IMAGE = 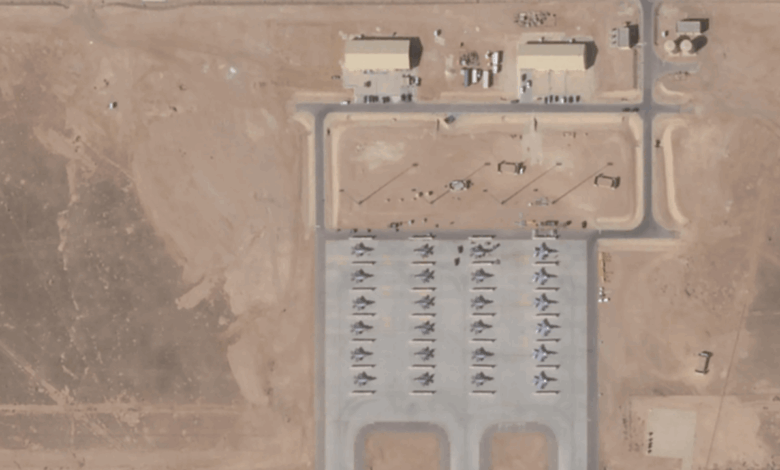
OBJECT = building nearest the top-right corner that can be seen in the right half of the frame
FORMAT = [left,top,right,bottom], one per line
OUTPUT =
[676,20,701,34]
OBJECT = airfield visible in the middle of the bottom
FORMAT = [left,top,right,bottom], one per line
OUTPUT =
[324,239,588,470]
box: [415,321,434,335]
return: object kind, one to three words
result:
airplane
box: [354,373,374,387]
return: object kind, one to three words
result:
airplane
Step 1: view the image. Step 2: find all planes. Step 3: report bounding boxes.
[472,374,491,387]
[354,373,374,387]
[353,296,373,310]
[414,373,434,387]
[532,295,555,311]
[532,372,555,388]
[352,322,372,335]
[472,270,491,283]
[472,296,491,309]
[415,321,434,335]
[414,296,434,310]
[532,347,555,363]
[415,347,434,361]
[532,268,555,284]
[415,245,433,258]
[472,347,491,361]
[415,270,434,283]
[532,243,556,259]
[352,347,371,361]
[472,245,492,258]
[353,245,373,258]
[353,270,372,283]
